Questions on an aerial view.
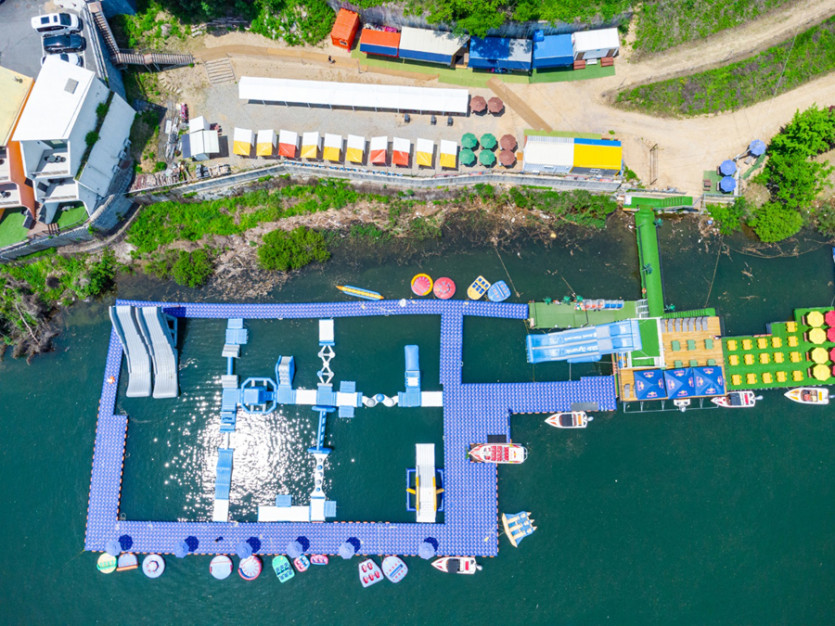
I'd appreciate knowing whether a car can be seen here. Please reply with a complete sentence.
Yes, there is a car in the image.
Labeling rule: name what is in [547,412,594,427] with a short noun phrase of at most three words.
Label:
boat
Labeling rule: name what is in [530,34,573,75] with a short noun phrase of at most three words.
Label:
building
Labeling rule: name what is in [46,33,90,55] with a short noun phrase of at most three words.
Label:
car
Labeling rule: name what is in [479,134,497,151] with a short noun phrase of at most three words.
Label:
umbrella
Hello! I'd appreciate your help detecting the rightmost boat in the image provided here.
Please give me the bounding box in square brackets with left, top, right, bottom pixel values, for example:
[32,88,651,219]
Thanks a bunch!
[786,389,833,404]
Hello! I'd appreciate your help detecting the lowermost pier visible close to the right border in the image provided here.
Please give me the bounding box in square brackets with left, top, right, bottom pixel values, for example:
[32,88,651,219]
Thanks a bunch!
[721,306,835,392]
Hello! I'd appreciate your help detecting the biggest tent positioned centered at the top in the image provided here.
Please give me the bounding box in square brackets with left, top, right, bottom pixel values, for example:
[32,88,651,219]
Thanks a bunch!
[237,77,469,118]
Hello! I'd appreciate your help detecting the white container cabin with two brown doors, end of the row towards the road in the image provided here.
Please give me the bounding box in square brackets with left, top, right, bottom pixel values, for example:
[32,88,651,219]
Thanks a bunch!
[572,28,620,62]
